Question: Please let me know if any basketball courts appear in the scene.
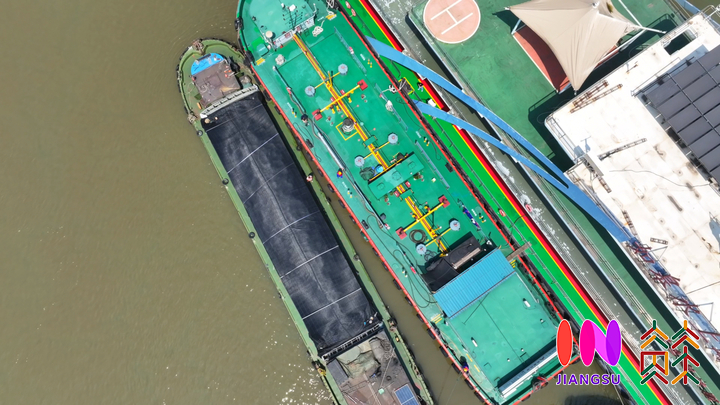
No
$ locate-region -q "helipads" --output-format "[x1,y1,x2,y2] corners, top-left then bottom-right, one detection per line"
[423,0,480,43]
